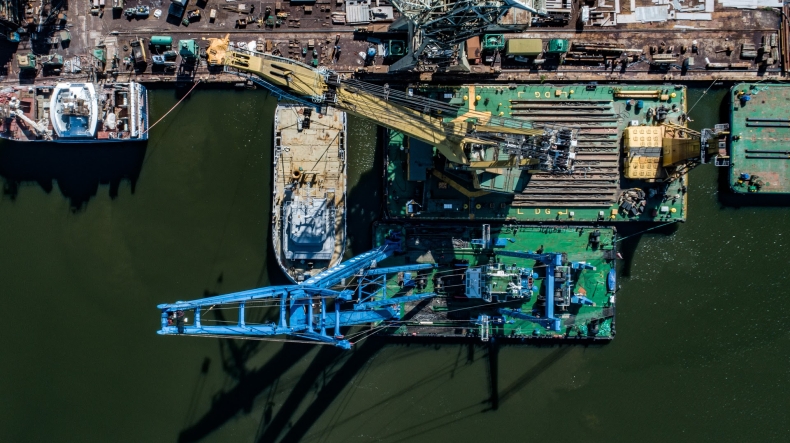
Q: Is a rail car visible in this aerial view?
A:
No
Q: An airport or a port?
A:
port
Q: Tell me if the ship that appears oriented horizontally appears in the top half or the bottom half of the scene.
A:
top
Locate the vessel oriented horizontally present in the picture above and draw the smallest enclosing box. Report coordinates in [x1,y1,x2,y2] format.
[0,82,148,143]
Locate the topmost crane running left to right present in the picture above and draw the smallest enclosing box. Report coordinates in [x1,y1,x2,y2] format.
[359,0,559,74]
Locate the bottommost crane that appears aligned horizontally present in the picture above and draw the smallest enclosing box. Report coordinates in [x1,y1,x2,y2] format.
[153,222,618,350]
